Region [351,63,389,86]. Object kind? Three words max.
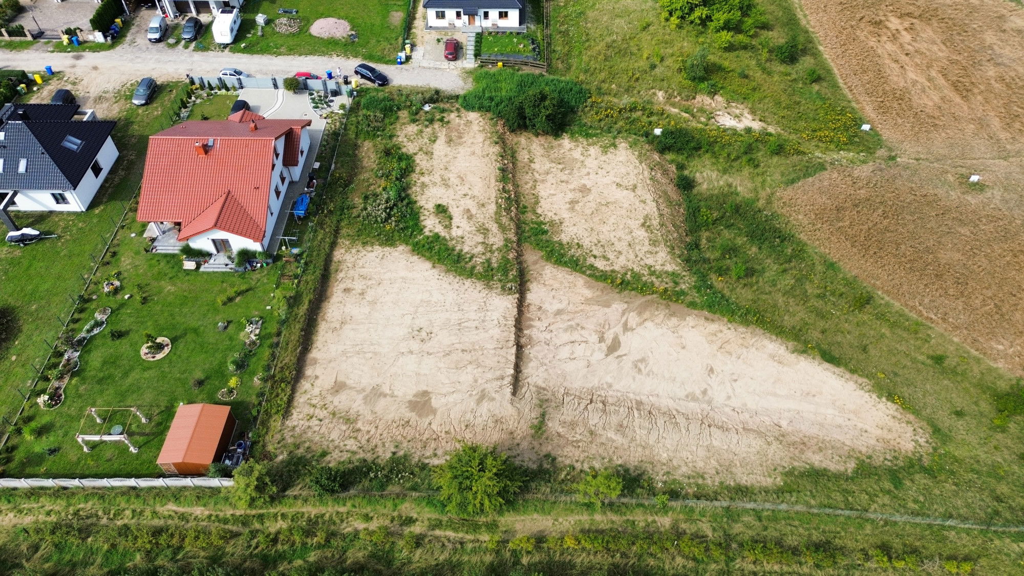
car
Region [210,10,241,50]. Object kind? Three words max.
camper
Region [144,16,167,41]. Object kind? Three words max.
vehicle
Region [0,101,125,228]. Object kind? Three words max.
house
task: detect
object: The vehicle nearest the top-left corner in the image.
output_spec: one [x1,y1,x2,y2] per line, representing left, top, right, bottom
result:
[49,88,76,103]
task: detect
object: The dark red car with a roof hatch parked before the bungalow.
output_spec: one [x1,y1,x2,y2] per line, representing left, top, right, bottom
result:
[443,39,459,59]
